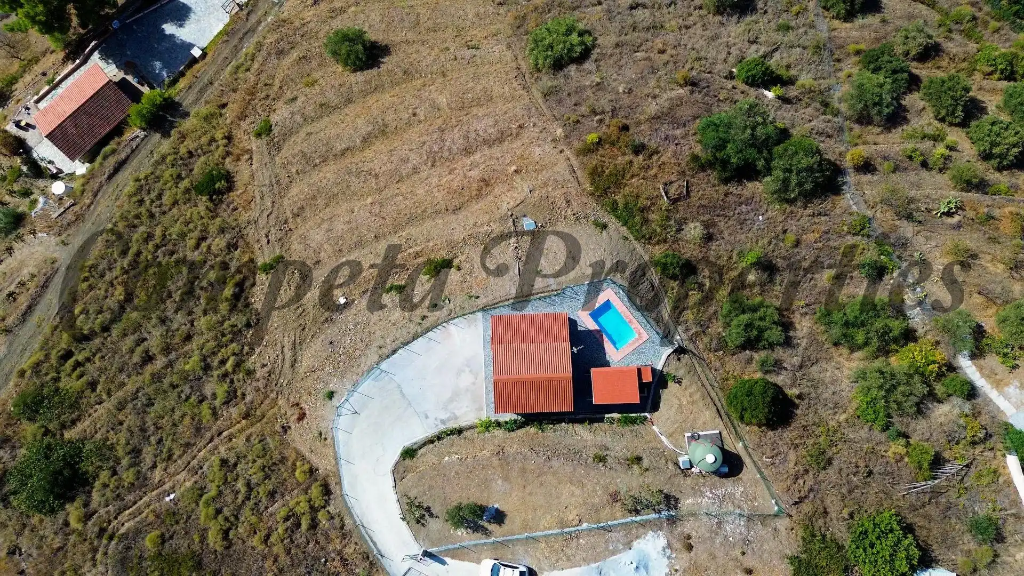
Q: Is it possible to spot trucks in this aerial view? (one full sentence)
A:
No, this view has no truck in it.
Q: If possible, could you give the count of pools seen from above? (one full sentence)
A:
Altogether the scene contains 1 pool.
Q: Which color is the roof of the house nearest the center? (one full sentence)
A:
The roof over the house nearest the center appears red.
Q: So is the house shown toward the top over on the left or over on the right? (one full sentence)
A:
The house shown toward the top is on the left side of the image.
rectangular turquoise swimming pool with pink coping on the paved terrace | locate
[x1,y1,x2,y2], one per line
[578,288,650,362]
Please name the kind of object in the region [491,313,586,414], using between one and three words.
house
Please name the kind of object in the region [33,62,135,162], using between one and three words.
house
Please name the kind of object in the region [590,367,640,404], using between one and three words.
shed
